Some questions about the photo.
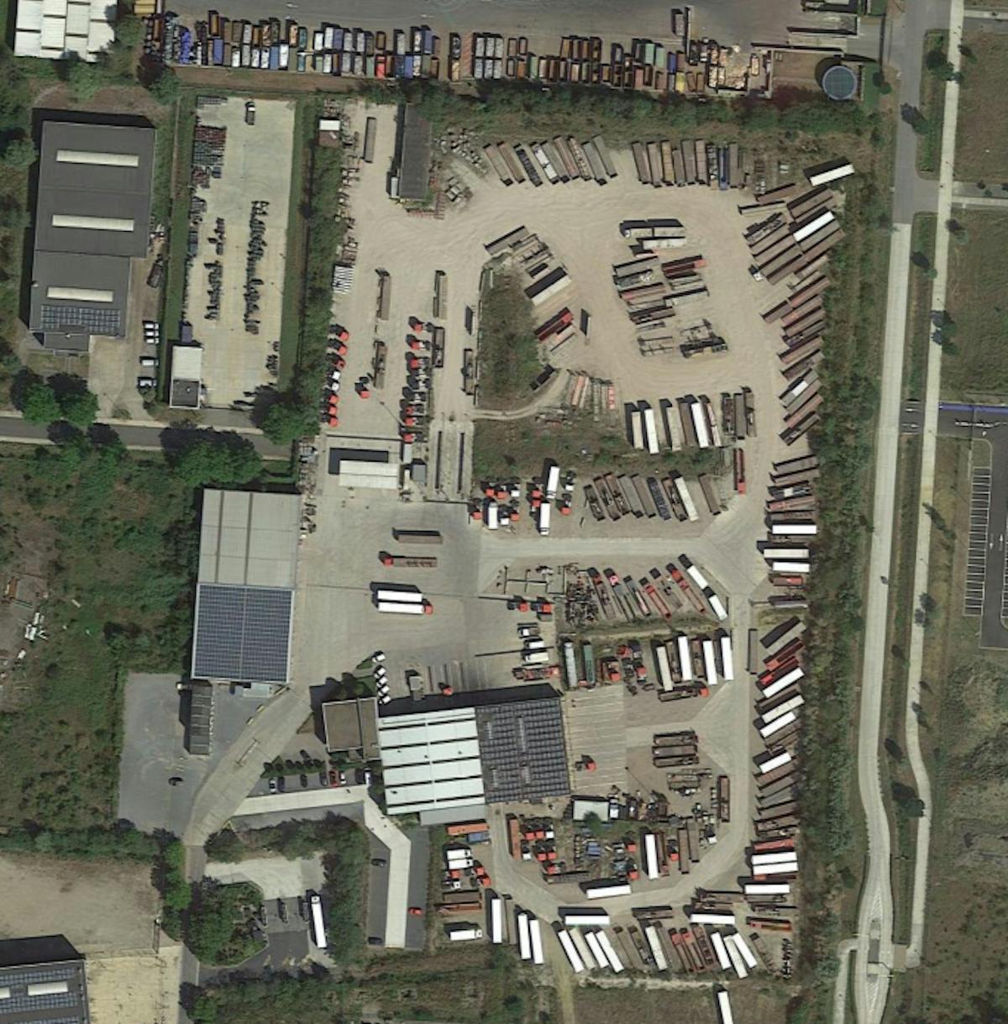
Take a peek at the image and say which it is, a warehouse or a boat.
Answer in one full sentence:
Visible in the photo is a warehouse.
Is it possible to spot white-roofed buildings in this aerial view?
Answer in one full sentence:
Yes, a white-roofed building is visible in the scene.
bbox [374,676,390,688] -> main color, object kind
white vehicle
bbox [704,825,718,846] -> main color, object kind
white vehicle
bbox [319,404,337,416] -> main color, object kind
red vehicle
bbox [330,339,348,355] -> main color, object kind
red vehicle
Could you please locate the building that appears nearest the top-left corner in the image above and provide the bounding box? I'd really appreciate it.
[13,0,116,57]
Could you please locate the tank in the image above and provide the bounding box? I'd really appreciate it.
[823,64,858,100]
